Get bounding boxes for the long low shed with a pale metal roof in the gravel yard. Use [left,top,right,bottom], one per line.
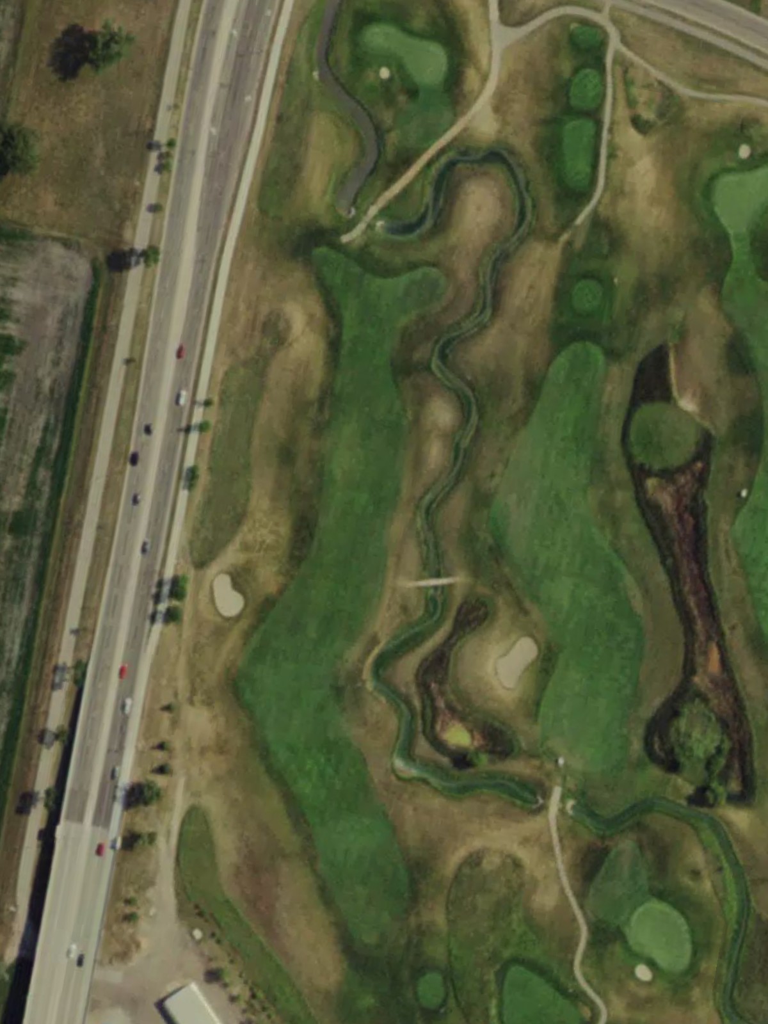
[164,981,224,1024]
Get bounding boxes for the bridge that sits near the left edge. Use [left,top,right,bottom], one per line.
[23,822,121,1024]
